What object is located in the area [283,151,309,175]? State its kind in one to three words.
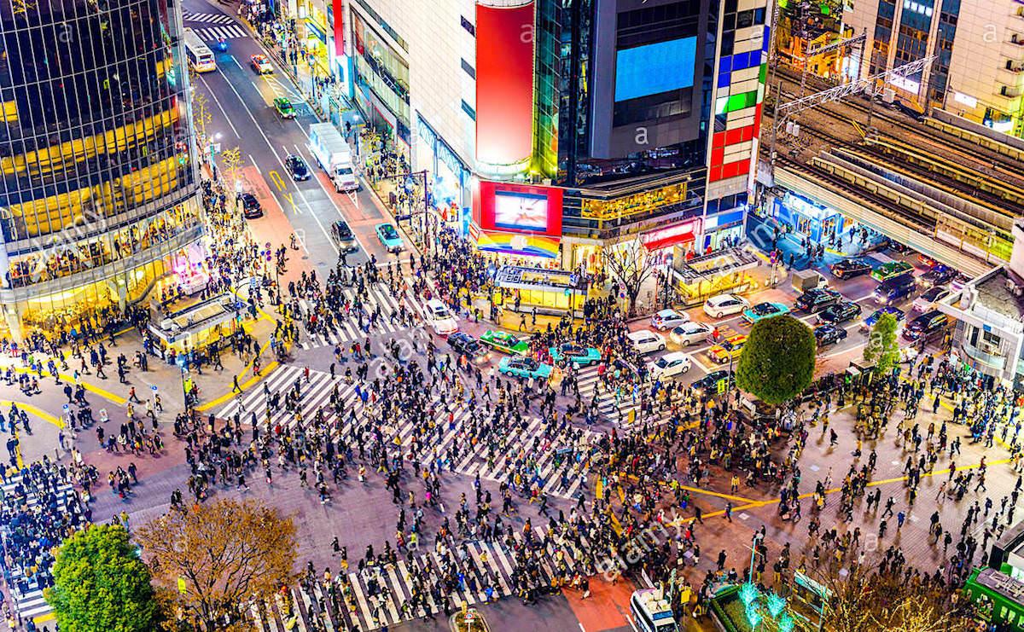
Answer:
car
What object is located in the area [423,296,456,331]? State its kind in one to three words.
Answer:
car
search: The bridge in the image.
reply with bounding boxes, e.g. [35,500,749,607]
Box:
[757,83,1024,283]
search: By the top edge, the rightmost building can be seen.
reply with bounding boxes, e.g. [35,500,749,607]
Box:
[847,0,1024,161]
